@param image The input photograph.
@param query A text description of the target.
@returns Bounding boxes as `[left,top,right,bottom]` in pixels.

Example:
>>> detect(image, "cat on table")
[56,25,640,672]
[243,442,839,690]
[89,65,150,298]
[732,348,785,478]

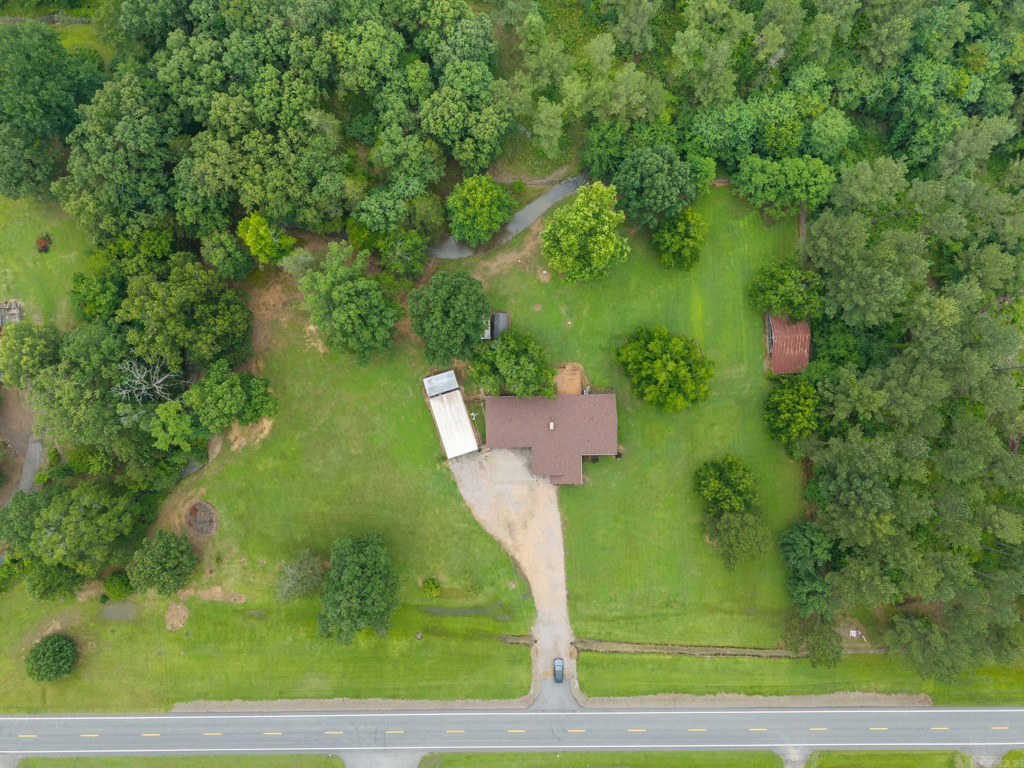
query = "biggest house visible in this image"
[485,393,617,484]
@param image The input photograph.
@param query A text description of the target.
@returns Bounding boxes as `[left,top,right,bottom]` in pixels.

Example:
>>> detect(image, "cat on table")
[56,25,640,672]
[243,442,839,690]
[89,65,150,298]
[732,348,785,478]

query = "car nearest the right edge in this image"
[553,660,565,685]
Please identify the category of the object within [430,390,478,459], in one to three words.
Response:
building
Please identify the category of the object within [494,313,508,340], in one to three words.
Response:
shed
